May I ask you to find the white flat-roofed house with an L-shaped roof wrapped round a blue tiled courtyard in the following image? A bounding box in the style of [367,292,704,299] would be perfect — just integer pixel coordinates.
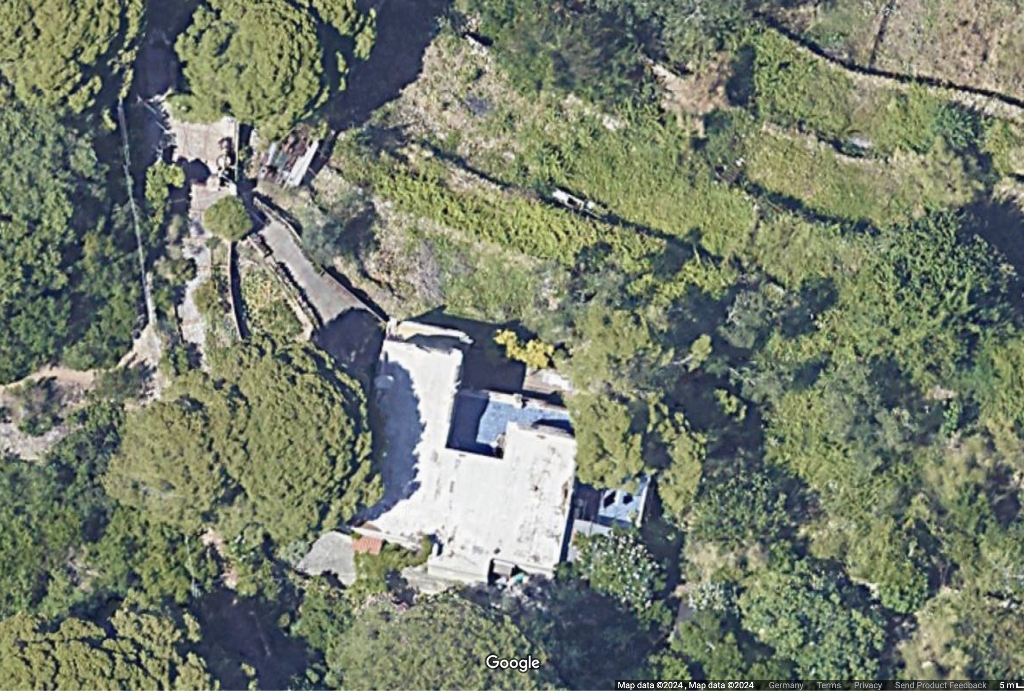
[358,339,576,583]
